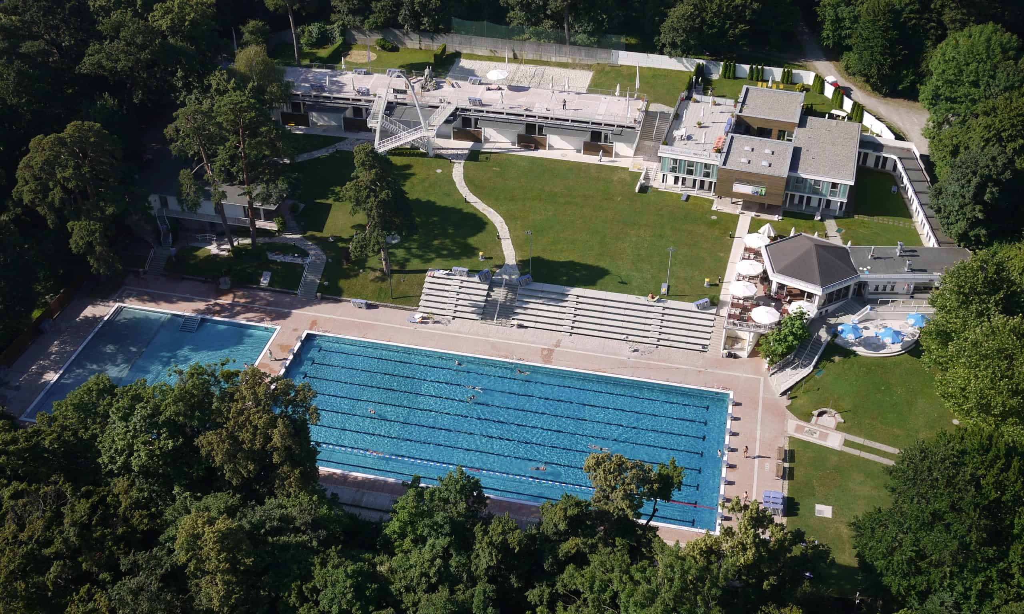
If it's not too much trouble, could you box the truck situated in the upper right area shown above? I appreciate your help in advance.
[825,68,852,92]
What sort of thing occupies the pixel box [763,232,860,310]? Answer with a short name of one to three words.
building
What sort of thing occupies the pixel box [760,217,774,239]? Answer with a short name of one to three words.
umbrella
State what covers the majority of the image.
trees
